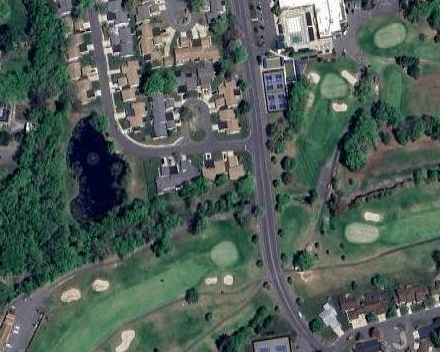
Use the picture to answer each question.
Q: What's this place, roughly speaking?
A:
golf course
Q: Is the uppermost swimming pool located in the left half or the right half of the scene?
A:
right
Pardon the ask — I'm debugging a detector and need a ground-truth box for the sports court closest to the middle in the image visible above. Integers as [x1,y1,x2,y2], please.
[262,69,289,112]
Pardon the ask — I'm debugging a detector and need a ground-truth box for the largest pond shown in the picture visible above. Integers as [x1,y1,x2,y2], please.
[67,114,130,225]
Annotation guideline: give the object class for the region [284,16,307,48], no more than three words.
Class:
swimming pool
